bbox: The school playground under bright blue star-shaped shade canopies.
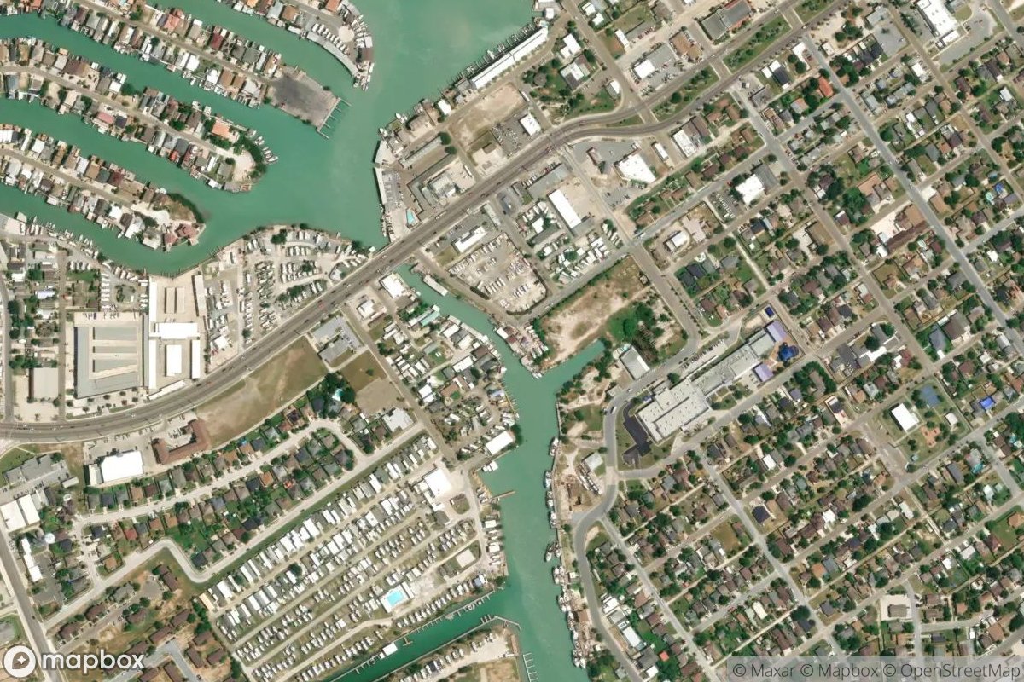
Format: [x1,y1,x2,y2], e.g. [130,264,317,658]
[772,338,805,365]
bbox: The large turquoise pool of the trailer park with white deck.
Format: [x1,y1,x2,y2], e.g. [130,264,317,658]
[381,585,408,613]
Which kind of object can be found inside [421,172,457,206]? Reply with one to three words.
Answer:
building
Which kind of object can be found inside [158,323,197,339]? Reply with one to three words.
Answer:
shed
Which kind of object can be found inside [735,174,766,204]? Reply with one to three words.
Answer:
building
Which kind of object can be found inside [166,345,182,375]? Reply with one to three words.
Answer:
shed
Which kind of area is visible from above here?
residential area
